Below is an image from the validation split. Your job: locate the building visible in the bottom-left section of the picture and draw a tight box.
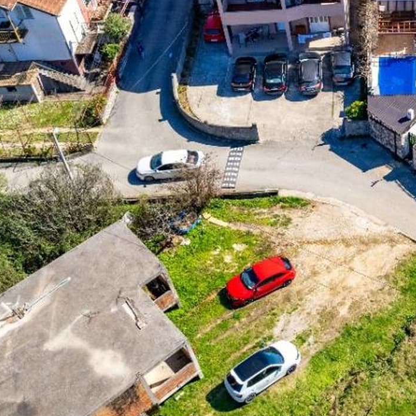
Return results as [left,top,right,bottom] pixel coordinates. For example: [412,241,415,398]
[0,221,199,416]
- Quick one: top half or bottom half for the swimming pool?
top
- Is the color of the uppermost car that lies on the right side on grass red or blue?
red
